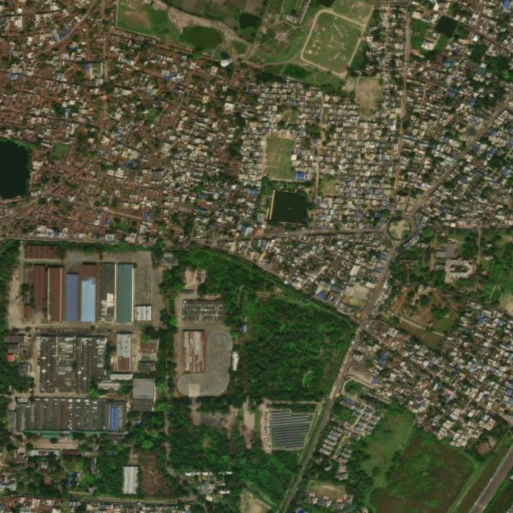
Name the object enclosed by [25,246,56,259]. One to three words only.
shed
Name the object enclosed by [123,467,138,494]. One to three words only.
building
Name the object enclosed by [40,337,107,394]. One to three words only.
building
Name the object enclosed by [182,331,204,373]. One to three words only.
shed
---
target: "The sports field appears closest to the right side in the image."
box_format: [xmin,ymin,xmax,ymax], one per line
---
[356,77,382,117]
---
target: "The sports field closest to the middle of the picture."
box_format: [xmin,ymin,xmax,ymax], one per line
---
[263,133,297,182]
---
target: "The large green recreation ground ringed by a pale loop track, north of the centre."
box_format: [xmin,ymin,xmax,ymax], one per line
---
[301,0,376,79]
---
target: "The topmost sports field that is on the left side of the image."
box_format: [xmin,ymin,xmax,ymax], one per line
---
[117,0,181,44]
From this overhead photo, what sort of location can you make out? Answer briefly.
residential area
